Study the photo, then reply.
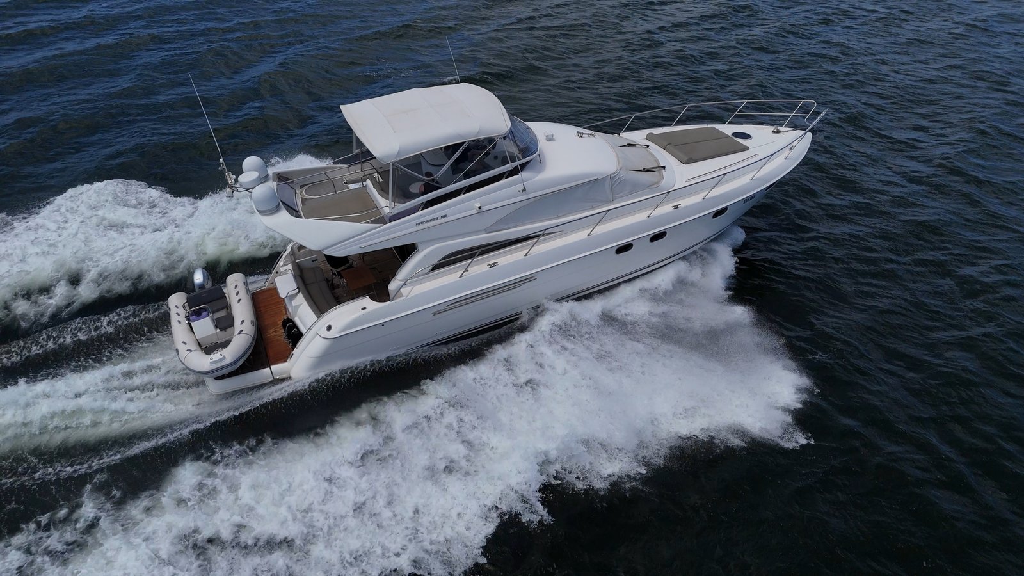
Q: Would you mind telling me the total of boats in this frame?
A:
two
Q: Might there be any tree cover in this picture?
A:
No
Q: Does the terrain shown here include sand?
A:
No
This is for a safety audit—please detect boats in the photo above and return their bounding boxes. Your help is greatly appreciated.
[190,38,827,397]
[172,257,259,376]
